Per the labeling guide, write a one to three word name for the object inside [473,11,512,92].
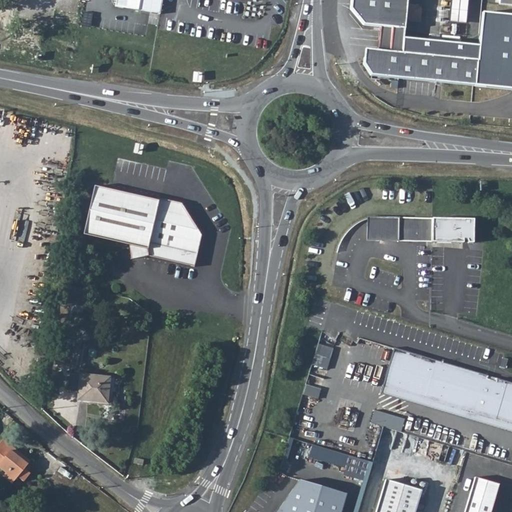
building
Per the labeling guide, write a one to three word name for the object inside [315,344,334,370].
shed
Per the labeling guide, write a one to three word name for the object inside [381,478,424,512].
building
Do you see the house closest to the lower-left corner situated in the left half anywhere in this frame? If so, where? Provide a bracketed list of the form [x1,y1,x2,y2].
[0,431,31,482]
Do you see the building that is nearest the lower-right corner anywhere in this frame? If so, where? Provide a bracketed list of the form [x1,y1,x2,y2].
[465,476,501,512]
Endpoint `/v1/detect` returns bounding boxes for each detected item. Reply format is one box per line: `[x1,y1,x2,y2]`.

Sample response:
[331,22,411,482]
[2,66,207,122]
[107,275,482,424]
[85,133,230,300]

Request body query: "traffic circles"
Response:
[236,72,354,190]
